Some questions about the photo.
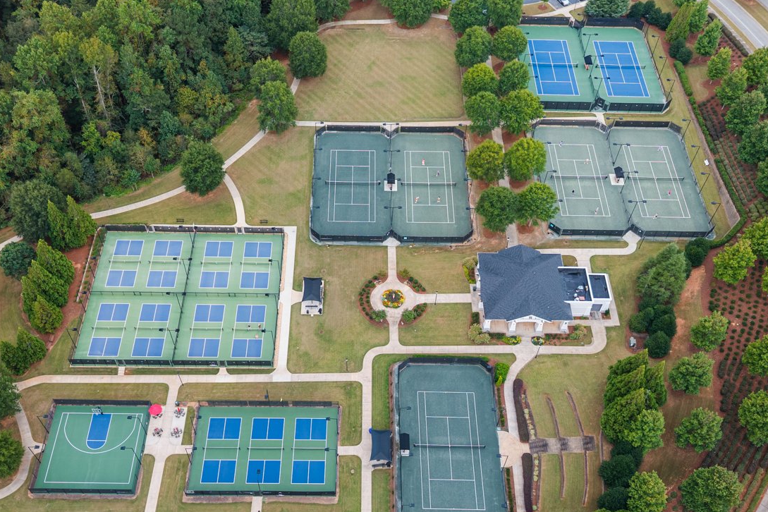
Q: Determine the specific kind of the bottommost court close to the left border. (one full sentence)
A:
It turns out the bottommost court close to the left border is a basketball court.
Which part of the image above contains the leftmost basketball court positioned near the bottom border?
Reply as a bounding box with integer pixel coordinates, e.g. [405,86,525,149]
[31,405,149,493]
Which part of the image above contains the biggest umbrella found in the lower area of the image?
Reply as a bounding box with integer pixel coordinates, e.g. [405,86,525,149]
[147,403,161,415]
